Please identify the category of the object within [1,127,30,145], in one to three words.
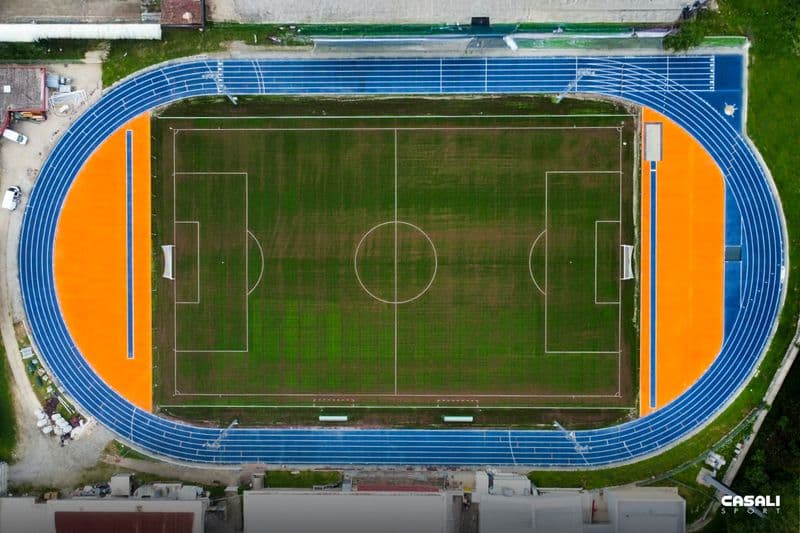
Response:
vehicle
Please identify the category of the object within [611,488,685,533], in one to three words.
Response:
building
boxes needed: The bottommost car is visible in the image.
[2,187,23,211]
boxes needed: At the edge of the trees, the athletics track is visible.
[18,55,784,465]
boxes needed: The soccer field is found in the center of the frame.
[173,127,621,406]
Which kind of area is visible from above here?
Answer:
sports ground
